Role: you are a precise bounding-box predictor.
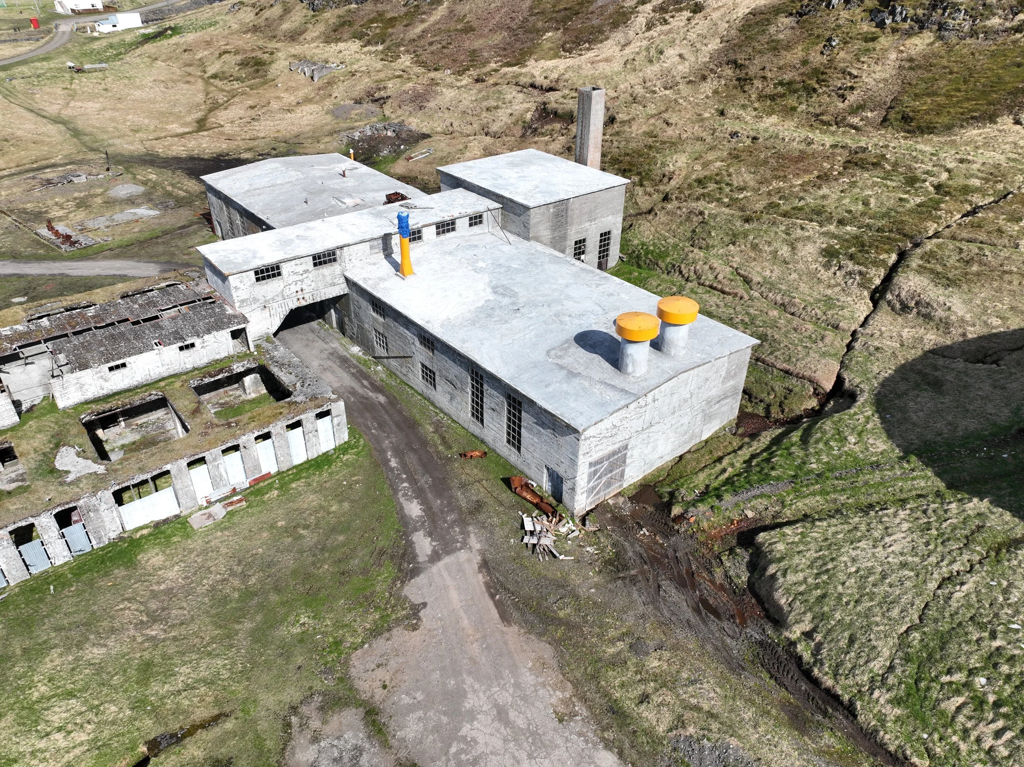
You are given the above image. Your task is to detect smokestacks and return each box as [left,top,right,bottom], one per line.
[574,86,606,172]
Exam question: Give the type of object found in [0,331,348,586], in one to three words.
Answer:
building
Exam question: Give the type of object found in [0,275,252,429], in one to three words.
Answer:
shed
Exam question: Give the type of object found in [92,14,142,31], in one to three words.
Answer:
house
